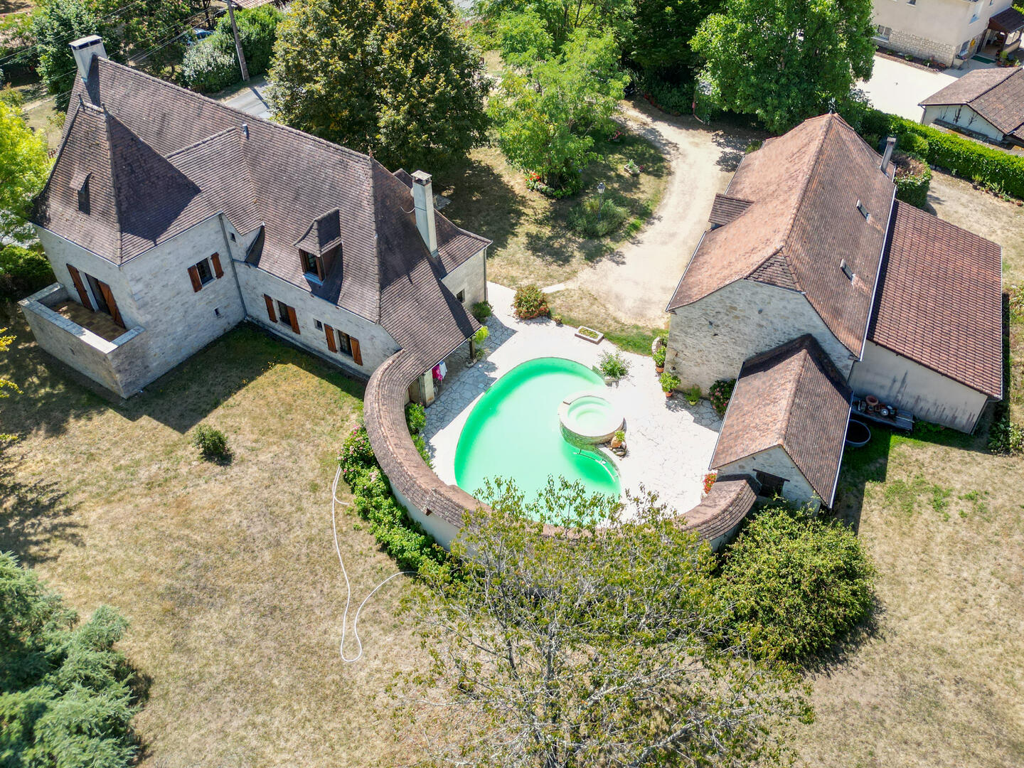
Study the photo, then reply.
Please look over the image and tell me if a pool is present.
Yes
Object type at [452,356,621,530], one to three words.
swimming pool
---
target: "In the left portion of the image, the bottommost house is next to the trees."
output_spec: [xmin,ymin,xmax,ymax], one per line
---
[17,33,492,409]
